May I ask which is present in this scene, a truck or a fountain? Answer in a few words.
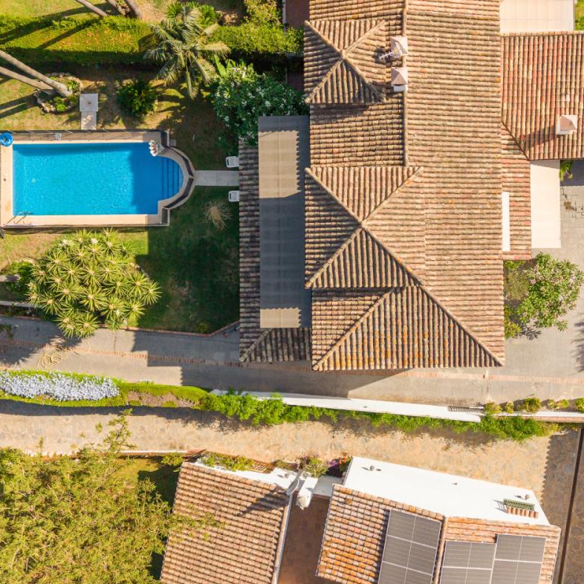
fountain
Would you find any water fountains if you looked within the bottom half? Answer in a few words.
No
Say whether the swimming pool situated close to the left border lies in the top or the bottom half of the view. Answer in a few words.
top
